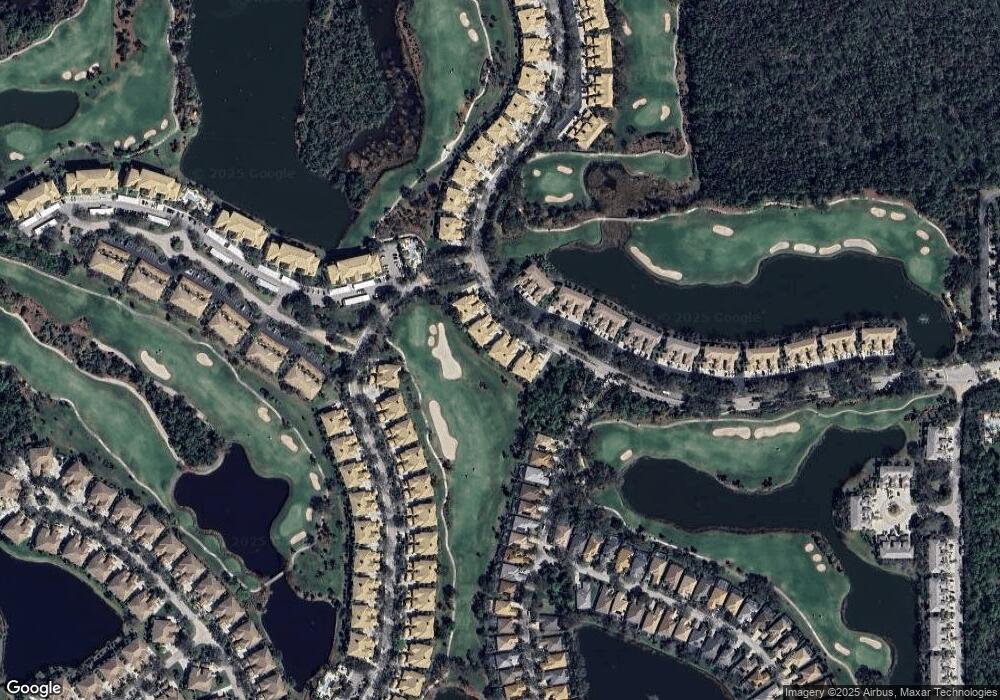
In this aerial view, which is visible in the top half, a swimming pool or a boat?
swimming pool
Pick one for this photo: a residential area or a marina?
residential area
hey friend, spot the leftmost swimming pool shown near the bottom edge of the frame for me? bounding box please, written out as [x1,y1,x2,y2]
[317,666,347,699]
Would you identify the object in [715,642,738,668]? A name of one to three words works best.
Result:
house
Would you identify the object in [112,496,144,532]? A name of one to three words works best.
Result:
house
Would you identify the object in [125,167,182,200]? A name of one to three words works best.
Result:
building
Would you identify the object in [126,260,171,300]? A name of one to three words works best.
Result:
building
